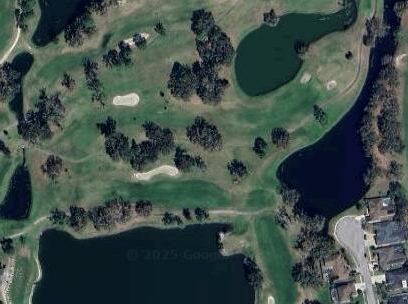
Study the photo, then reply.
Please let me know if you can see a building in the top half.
No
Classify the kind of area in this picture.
golf course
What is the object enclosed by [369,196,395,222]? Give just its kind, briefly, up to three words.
house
